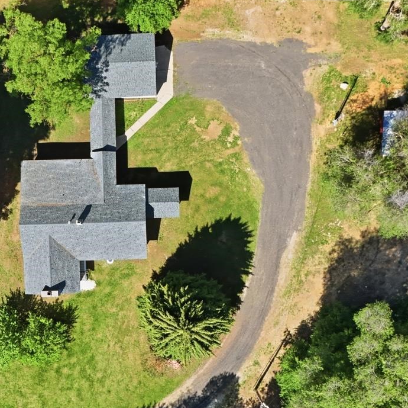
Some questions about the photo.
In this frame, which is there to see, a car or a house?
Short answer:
house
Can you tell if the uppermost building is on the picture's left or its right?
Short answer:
left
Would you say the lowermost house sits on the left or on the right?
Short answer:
left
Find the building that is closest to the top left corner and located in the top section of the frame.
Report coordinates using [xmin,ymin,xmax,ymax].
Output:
[91,34,160,99]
